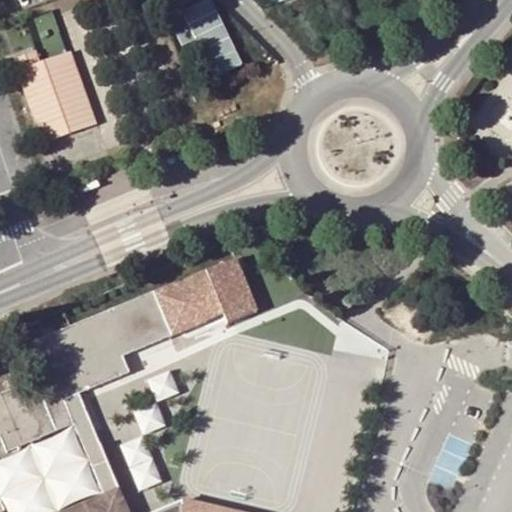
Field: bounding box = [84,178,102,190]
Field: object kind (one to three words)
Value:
vehicle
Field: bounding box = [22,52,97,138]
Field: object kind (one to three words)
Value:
building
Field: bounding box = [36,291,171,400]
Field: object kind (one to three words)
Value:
building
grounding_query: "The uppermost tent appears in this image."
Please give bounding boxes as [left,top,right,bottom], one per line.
[146,371,179,404]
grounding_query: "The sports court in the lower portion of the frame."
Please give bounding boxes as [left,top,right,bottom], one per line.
[183,333,328,512]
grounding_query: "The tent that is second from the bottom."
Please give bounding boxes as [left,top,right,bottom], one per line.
[132,402,165,436]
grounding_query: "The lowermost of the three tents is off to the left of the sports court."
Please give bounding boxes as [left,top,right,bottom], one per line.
[118,436,161,494]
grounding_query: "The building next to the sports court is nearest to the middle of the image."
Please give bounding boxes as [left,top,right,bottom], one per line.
[154,258,257,336]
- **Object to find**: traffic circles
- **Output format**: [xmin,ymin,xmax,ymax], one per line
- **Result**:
[276,66,442,230]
